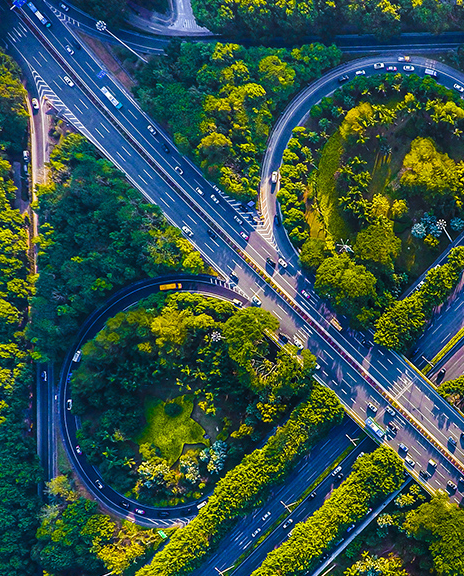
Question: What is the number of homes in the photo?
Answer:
0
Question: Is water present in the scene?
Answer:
No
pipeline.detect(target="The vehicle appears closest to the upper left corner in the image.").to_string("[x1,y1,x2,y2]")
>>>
[25,1,53,29]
